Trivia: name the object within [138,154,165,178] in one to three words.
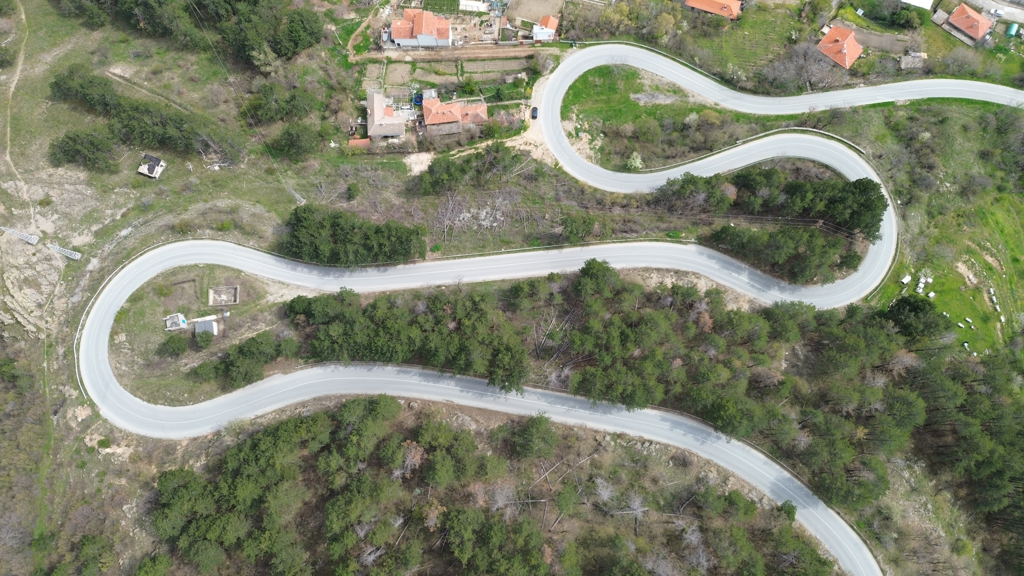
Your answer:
shed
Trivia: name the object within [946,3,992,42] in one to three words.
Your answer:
house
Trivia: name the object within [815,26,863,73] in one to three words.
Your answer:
house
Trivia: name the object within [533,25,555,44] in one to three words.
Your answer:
shed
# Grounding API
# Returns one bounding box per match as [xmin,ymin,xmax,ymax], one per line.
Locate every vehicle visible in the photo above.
[532,107,537,118]
[389,32,394,42]
[990,10,1005,17]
